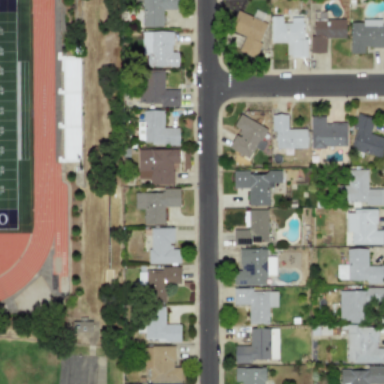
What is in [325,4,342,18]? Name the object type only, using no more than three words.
swimming pool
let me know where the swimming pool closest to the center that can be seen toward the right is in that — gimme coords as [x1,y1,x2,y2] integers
[282,219,298,242]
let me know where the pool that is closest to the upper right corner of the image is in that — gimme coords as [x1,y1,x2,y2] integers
[365,2,384,18]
